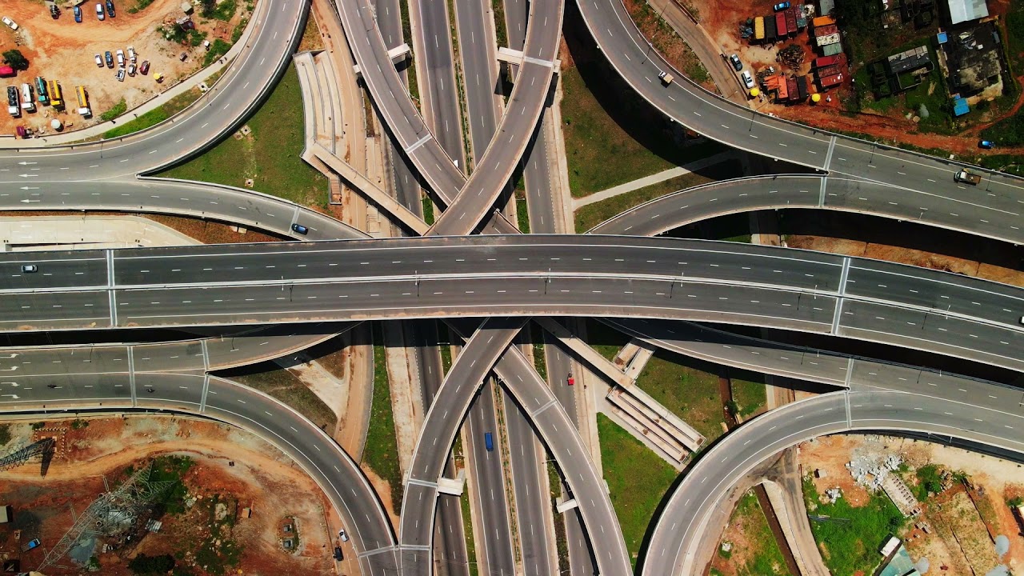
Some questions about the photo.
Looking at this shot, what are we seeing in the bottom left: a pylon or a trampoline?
pylon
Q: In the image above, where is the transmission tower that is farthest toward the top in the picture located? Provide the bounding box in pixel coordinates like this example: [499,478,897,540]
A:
[0,433,60,471]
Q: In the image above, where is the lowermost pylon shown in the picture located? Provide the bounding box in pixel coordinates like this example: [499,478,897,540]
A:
[27,461,178,575]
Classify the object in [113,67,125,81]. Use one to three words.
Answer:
vehicle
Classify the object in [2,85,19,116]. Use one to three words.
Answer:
vehicle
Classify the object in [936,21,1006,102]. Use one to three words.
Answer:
building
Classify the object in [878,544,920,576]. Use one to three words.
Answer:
house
